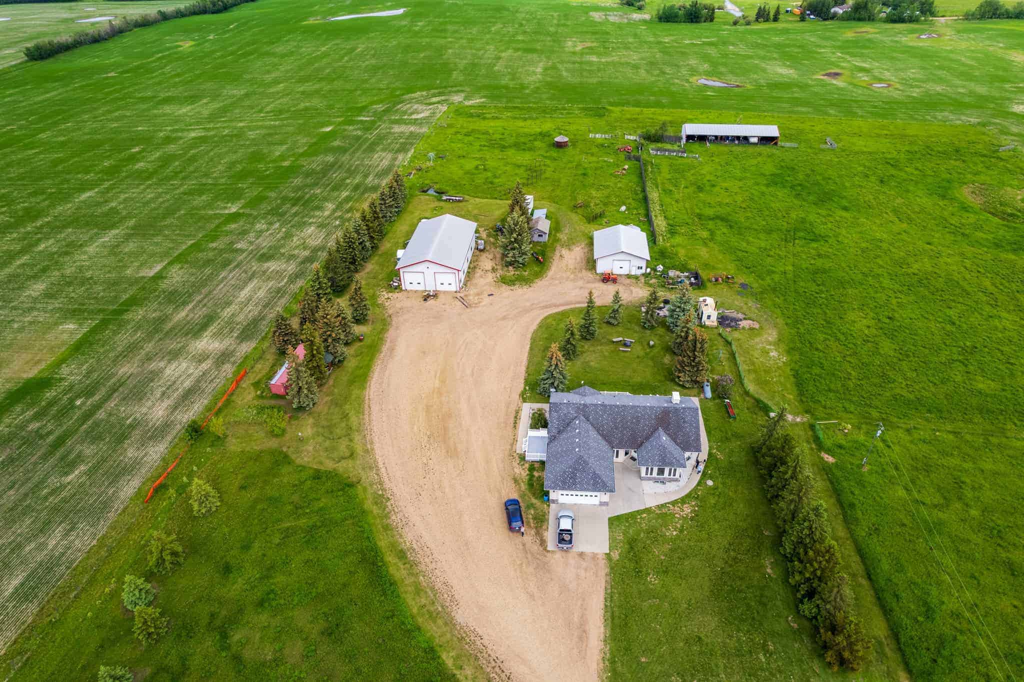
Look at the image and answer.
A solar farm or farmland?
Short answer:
farmland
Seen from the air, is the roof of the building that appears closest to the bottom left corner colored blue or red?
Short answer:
red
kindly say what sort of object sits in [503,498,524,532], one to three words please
car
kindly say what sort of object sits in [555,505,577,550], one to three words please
truck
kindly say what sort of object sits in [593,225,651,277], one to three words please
building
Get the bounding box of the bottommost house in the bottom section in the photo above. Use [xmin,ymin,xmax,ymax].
[516,387,702,507]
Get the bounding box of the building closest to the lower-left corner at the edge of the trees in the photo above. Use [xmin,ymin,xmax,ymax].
[266,367,290,399]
